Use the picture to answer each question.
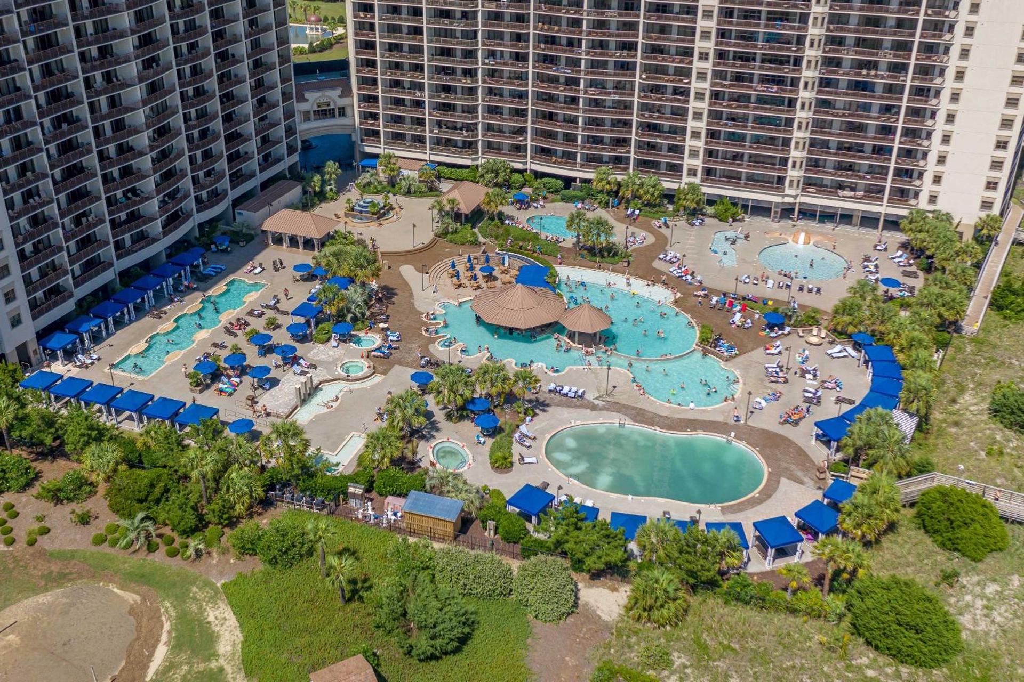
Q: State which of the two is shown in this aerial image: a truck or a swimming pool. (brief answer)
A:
swimming pool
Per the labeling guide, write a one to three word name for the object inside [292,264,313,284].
umbrella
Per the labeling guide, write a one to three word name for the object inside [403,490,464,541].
shed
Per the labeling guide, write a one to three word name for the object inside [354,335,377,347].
swimming pool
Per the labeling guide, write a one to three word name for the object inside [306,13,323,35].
gazebo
